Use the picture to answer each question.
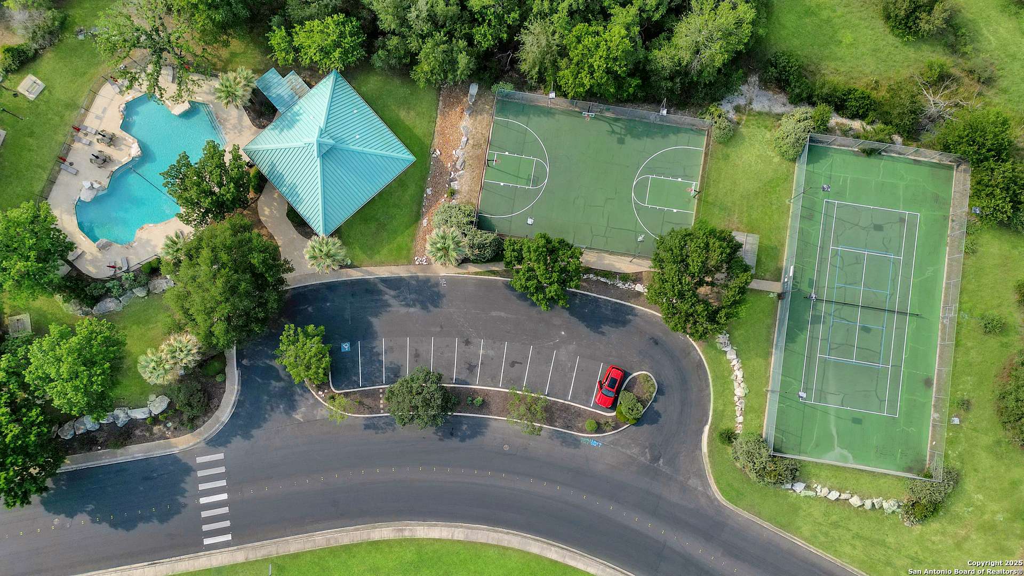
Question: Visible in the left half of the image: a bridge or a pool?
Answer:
pool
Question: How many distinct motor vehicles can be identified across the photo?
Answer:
1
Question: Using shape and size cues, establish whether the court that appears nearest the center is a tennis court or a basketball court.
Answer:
basketball court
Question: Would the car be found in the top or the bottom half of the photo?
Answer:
bottom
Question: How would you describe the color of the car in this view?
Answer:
red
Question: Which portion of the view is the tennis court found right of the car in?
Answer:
right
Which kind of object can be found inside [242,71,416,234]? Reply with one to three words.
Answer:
building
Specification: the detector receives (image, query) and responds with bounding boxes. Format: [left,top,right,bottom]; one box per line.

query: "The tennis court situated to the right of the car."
[762,144,953,475]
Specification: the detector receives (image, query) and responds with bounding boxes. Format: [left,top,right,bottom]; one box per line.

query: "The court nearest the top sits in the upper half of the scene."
[477,100,706,260]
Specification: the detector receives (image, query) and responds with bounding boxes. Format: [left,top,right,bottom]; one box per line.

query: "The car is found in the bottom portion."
[595,365,623,408]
